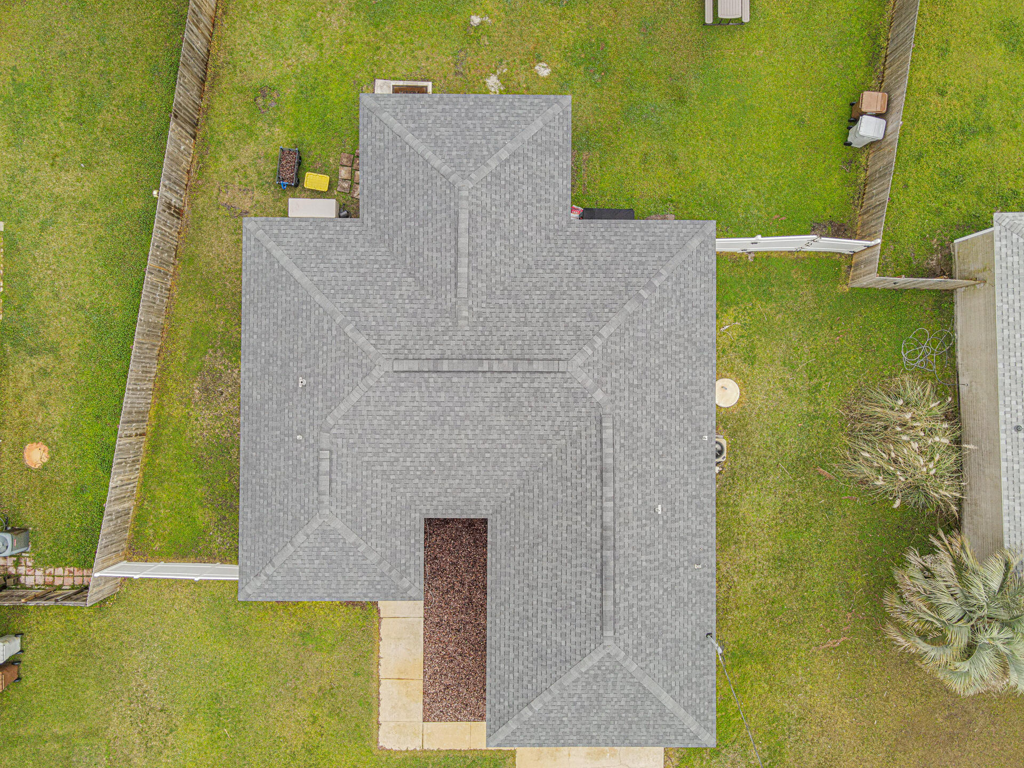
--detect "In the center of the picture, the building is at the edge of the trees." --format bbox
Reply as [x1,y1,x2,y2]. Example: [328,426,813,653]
[238,94,716,747]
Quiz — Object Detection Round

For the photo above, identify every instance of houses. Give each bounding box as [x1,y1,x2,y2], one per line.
[238,94,716,747]
[952,213,1024,583]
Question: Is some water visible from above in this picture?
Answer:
No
